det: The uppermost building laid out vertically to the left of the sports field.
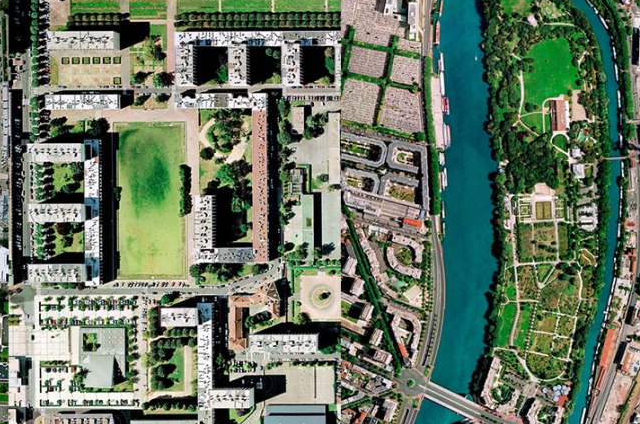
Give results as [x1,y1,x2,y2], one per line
[85,140,104,286]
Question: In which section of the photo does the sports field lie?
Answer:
left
